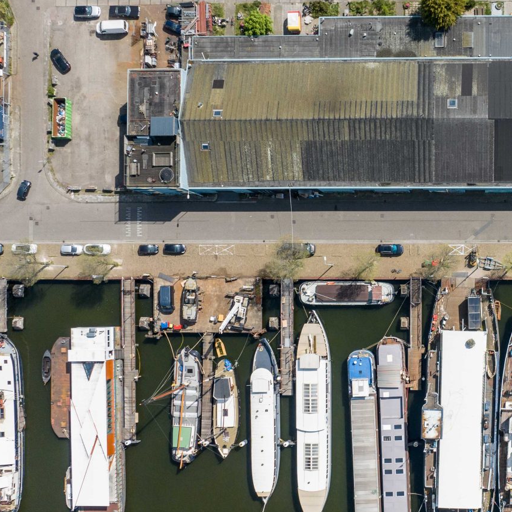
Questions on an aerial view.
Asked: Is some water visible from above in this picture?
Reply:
Yes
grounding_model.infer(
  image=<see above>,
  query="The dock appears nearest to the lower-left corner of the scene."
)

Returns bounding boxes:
[51,337,72,439]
